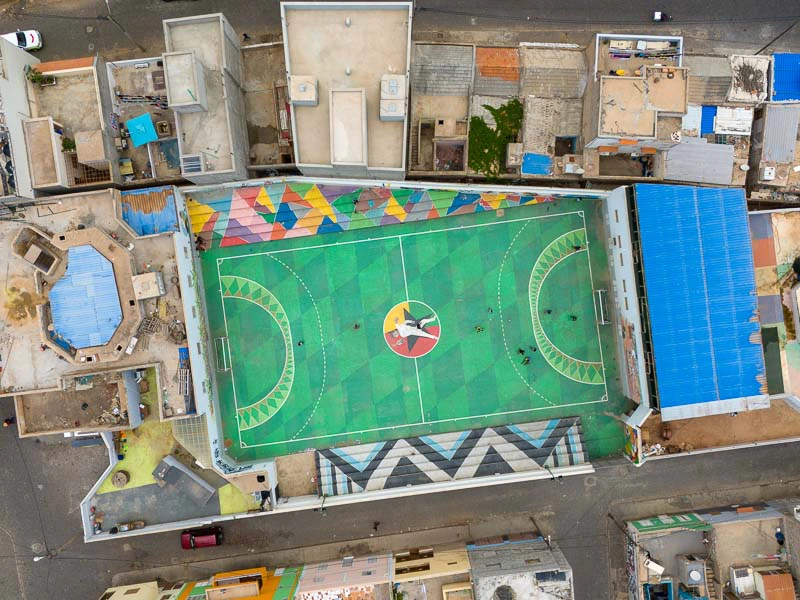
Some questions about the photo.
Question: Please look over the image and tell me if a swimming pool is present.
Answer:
No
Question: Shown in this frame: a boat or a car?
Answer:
car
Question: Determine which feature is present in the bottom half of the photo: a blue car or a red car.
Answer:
red car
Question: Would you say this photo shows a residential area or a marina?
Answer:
residential area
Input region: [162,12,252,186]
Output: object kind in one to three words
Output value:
house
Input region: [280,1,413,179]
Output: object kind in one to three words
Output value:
house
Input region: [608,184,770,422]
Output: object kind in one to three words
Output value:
building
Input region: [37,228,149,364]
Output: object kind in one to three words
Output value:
building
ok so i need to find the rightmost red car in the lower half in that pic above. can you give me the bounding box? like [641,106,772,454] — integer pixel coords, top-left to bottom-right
[178,529,221,554]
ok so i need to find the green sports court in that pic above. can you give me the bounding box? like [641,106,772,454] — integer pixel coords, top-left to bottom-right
[200,197,632,467]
